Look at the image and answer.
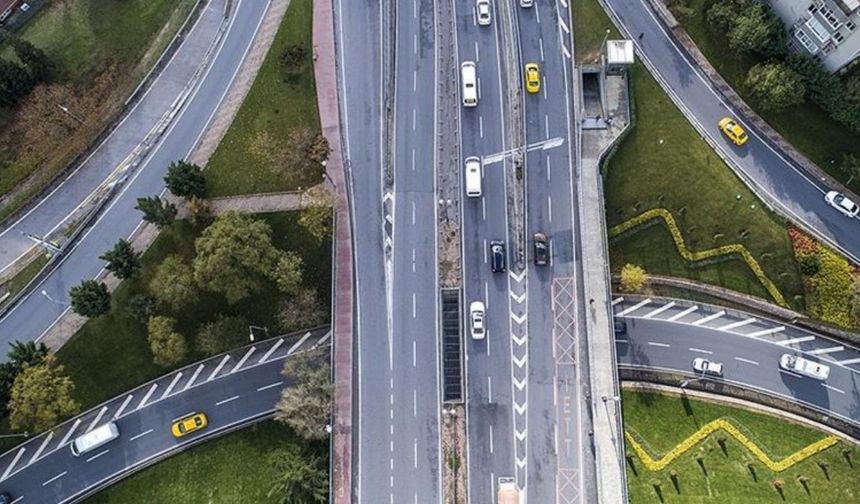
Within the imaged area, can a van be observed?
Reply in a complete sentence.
Yes, you can see a van in this photo.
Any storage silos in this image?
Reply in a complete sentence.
No, the picture doesn't show any storage silo.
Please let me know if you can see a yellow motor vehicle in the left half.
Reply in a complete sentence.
Yes, the scene does show a yellow motor vehicle in the left half.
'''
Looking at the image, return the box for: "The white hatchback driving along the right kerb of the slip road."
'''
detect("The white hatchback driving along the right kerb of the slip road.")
[824,193,857,218]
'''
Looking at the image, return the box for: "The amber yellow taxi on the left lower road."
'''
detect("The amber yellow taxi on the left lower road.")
[173,412,207,435]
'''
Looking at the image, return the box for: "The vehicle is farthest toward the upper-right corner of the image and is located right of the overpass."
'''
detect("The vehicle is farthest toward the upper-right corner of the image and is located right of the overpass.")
[718,118,747,146]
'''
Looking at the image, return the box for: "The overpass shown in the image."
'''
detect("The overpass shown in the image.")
[311,0,627,504]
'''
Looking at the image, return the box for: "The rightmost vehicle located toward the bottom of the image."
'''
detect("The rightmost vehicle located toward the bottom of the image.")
[773,354,831,381]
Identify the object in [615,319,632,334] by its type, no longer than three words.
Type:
car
